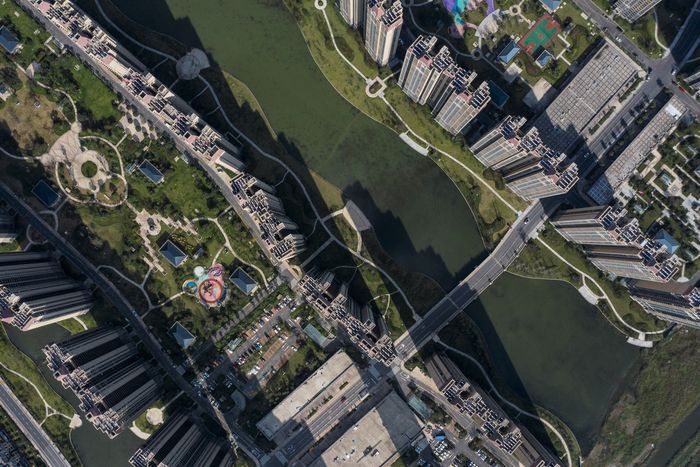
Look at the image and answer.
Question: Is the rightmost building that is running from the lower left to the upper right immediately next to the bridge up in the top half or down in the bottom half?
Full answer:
The rightmost building that is running from the lower left to the upper right immediately next to the bridge is in the top half of the image.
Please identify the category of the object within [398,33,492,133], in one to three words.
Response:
building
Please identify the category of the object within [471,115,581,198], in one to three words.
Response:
building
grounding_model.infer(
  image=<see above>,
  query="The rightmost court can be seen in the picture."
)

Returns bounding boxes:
[520,13,561,55]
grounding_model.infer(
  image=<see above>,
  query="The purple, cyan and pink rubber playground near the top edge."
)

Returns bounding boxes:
[442,0,494,39]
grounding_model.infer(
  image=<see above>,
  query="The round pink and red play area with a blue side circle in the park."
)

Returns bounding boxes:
[183,263,228,306]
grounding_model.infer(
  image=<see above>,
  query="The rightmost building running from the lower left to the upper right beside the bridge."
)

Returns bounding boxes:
[584,95,689,206]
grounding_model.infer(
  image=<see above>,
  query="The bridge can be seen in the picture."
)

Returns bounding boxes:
[398,200,554,362]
